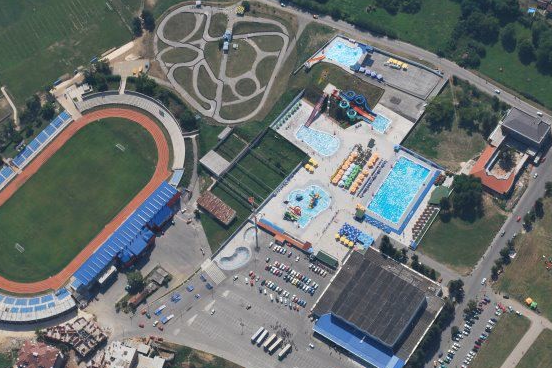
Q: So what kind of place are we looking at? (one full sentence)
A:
This image shows a sports ground.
